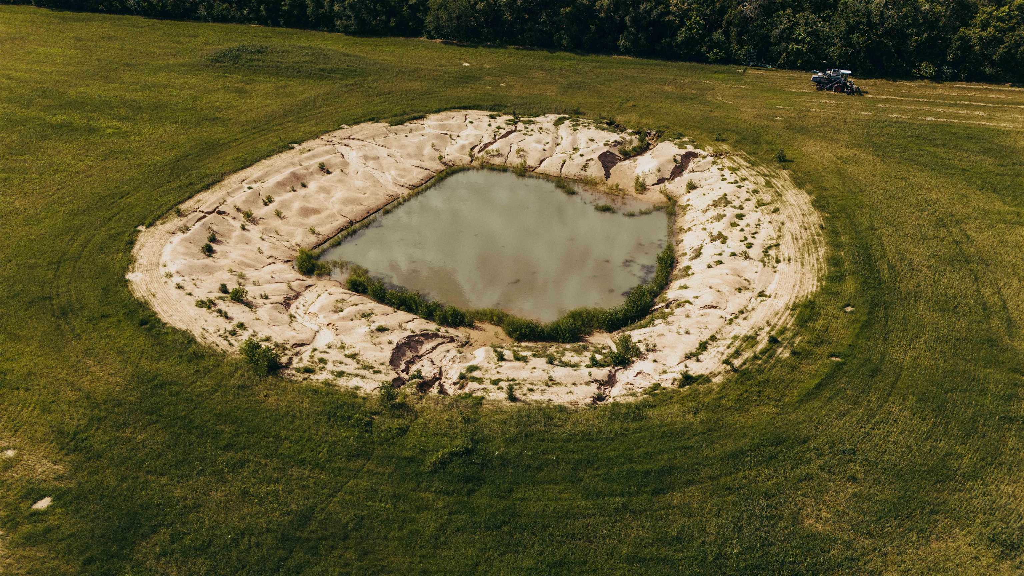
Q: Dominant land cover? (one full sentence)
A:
Most of the picture is covered by grass.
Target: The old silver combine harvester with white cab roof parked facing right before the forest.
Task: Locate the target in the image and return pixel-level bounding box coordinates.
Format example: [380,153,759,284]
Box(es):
[811,65,867,95]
